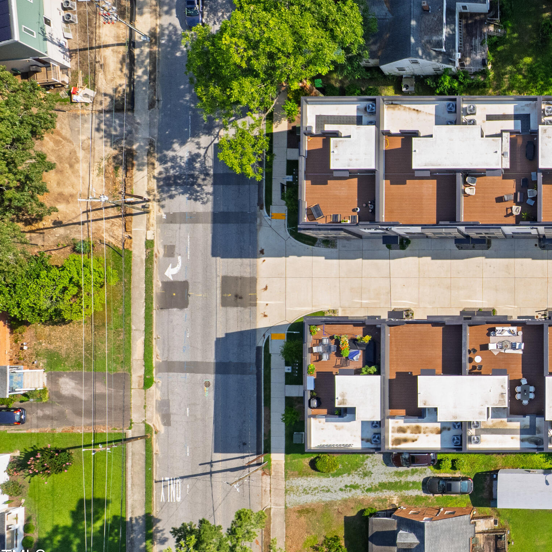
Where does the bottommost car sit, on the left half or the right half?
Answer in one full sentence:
It is on the right.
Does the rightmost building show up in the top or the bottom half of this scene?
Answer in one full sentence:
The bottom half of the photo is where the rightmost building is.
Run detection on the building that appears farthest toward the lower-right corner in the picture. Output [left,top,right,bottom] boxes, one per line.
[497,469,552,509]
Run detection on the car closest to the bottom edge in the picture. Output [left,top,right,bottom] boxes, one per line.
[428,474,473,496]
